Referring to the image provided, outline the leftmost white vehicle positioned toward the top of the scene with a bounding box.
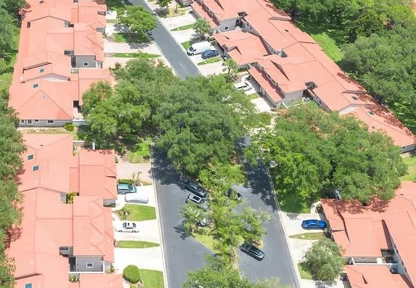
[189,40,211,56]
